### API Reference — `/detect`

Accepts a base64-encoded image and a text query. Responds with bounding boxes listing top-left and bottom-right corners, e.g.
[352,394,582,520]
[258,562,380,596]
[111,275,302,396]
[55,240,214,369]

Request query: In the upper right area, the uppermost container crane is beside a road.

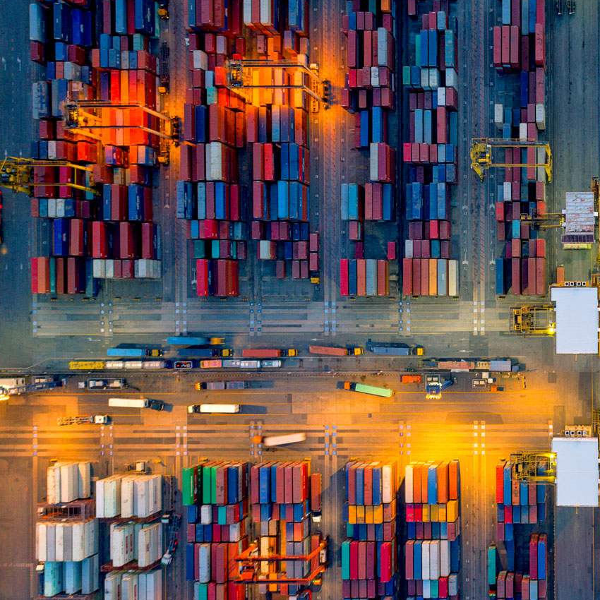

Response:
[469,138,554,184]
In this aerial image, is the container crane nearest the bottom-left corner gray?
No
